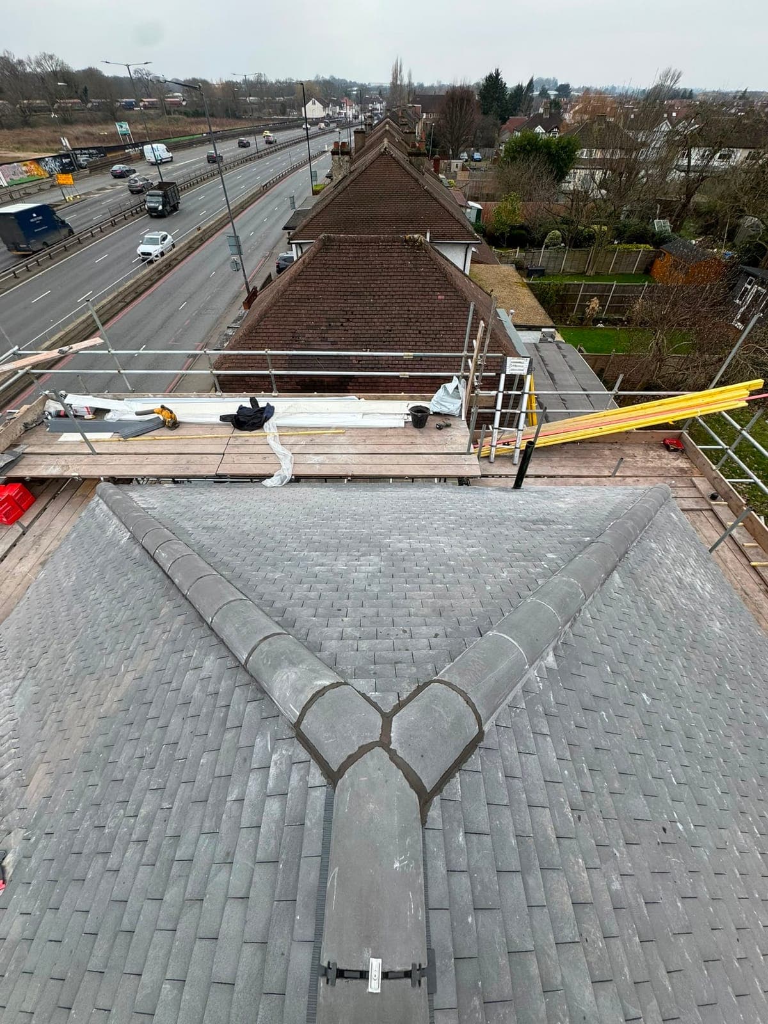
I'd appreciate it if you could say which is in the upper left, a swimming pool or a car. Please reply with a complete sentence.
Visible in the upper left is a car.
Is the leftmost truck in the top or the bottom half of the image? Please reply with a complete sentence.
The leftmost truck is in the top half of the image.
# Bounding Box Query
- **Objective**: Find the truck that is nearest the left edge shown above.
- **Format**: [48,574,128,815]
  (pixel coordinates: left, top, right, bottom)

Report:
[0,202,70,250]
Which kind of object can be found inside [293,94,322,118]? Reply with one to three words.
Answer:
house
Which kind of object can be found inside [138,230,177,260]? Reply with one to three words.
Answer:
car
